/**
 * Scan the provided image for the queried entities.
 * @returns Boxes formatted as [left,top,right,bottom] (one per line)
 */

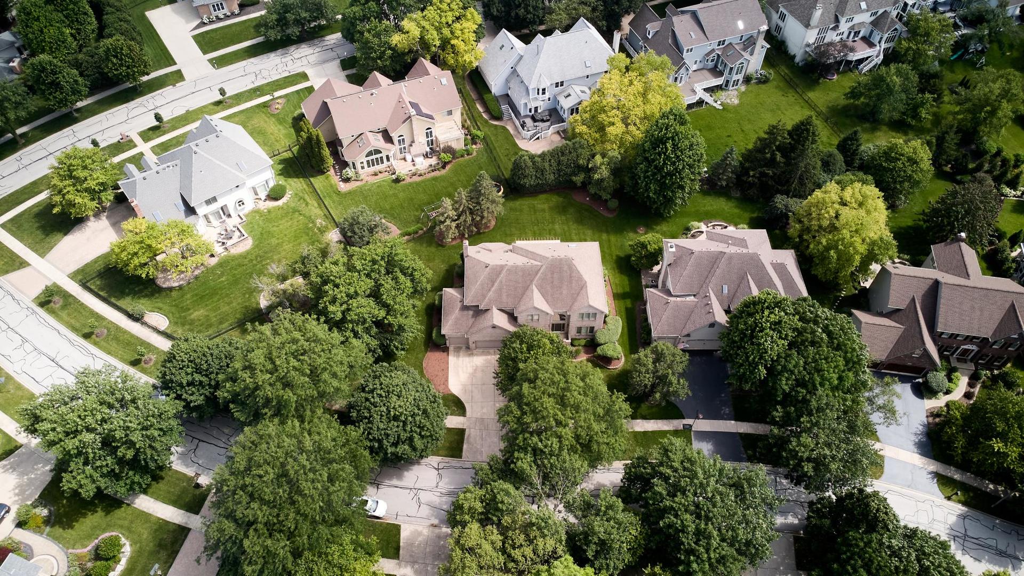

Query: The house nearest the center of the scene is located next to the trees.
[440,232,608,351]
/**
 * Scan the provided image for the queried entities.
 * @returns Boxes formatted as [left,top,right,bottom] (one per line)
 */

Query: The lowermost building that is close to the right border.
[853,224,1024,378]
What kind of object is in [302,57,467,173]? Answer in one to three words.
house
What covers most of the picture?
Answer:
trees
